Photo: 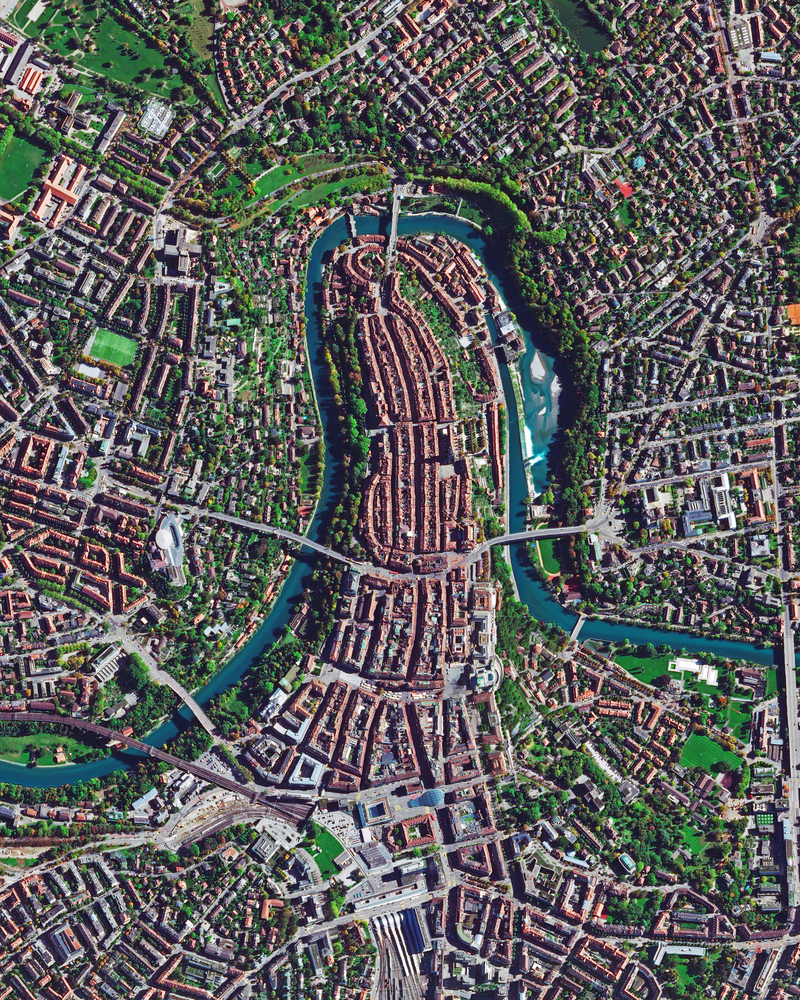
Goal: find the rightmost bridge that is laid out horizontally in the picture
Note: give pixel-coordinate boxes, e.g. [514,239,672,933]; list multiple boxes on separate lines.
[465,521,594,563]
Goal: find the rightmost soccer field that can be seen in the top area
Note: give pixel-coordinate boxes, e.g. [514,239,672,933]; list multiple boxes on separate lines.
[90,329,139,367]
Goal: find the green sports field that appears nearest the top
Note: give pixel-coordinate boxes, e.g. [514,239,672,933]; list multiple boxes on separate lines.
[0,135,46,199]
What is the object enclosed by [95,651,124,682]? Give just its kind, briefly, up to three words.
shed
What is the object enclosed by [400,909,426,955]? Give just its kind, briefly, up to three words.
shed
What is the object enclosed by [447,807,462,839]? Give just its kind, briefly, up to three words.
building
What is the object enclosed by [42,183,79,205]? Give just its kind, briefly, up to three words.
building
